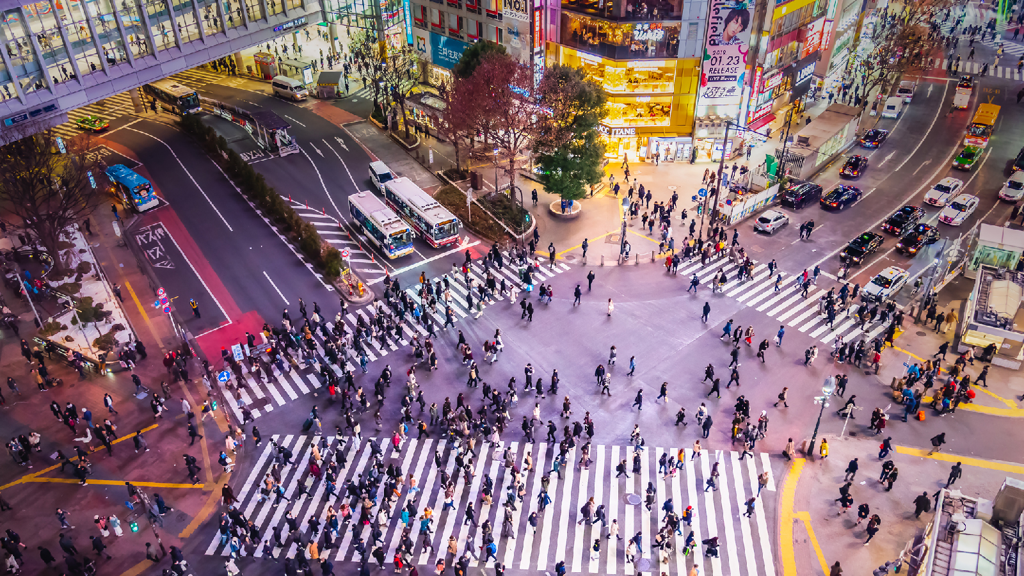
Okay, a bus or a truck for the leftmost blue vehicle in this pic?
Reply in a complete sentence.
Specifically, the leftmost blue vehicle is a bus.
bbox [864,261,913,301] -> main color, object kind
white car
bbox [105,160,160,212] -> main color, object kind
blue bus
